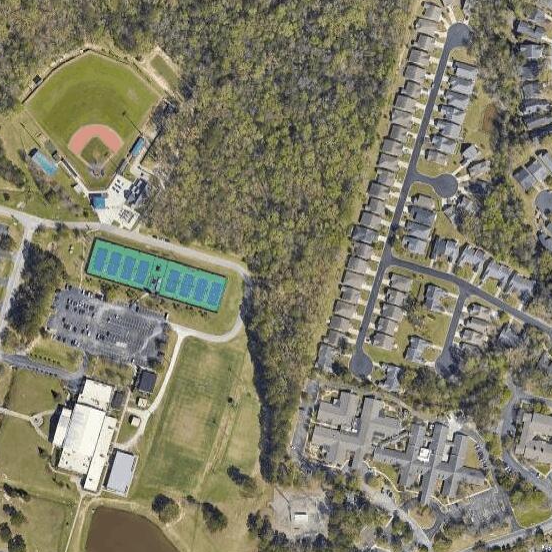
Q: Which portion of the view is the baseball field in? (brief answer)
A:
top left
